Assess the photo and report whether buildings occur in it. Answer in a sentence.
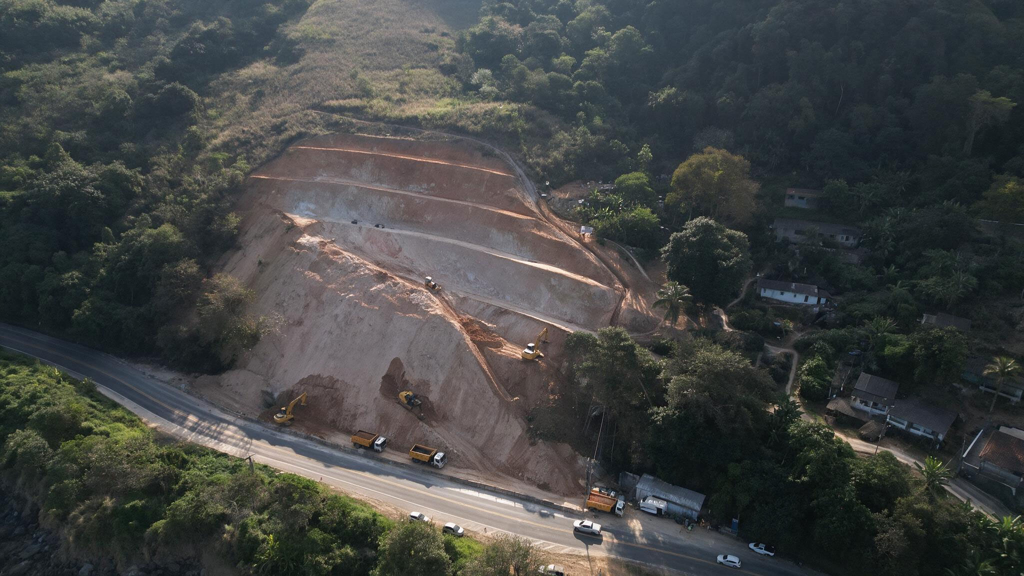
Yes, there is a building in the image.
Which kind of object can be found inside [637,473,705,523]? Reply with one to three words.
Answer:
shed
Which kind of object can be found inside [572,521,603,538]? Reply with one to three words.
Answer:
vehicle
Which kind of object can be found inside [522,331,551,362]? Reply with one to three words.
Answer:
work vehicle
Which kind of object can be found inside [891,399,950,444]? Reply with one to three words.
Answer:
house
